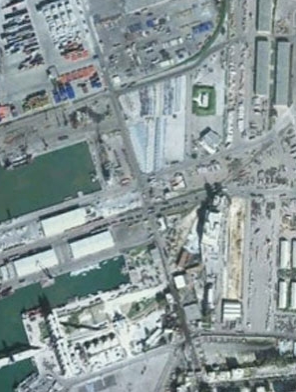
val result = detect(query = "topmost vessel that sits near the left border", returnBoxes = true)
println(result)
[4,158,33,172]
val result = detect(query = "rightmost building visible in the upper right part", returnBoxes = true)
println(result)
[277,42,294,105]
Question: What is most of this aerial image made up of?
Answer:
paved ground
